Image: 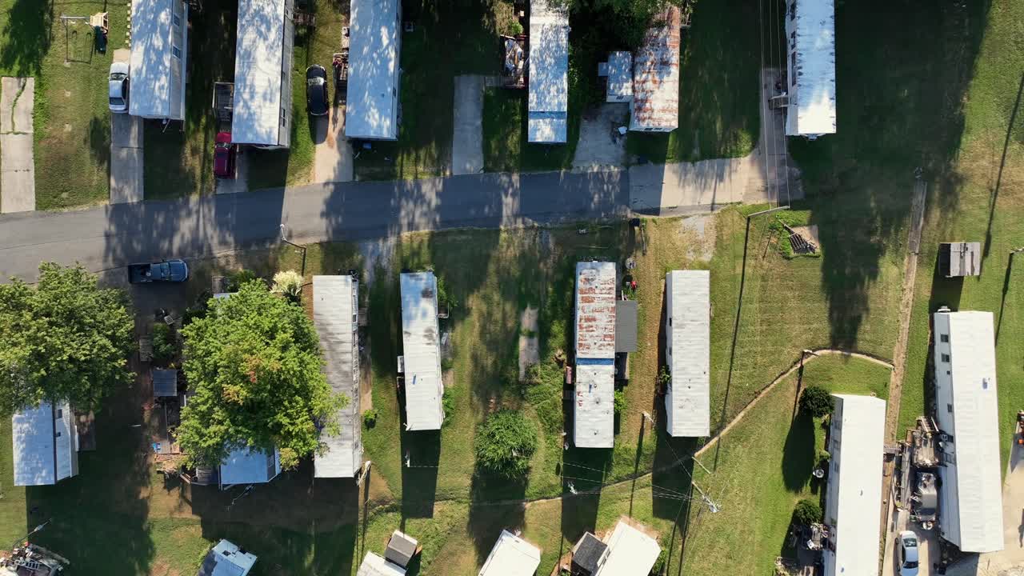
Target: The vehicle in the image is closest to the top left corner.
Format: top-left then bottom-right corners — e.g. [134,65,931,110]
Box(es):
[107,64,129,114]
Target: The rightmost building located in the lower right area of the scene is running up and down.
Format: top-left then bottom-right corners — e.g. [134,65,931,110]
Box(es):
[930,297,1004,553]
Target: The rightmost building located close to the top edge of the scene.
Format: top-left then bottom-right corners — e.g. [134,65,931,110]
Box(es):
[784,0,836,152]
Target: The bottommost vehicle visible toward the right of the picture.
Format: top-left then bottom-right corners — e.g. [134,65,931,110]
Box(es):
[896,531,921,576]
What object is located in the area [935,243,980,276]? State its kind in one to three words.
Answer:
shed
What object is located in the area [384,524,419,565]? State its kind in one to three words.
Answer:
shed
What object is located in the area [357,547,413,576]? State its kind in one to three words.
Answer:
house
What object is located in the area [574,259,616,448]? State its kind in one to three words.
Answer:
house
